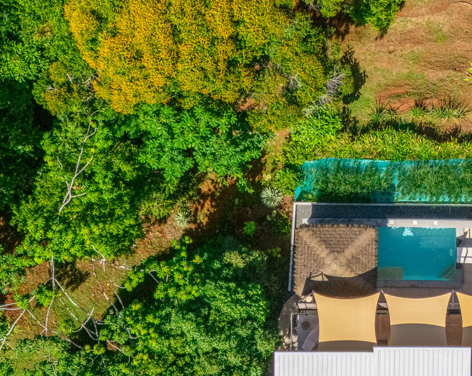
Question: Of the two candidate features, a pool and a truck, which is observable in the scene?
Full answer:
There is a pool in the scene.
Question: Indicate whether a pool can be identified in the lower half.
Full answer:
Yes, looking in the lower half, one can make out a pool.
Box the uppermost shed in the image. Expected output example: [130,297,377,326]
[290,223,380,301]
